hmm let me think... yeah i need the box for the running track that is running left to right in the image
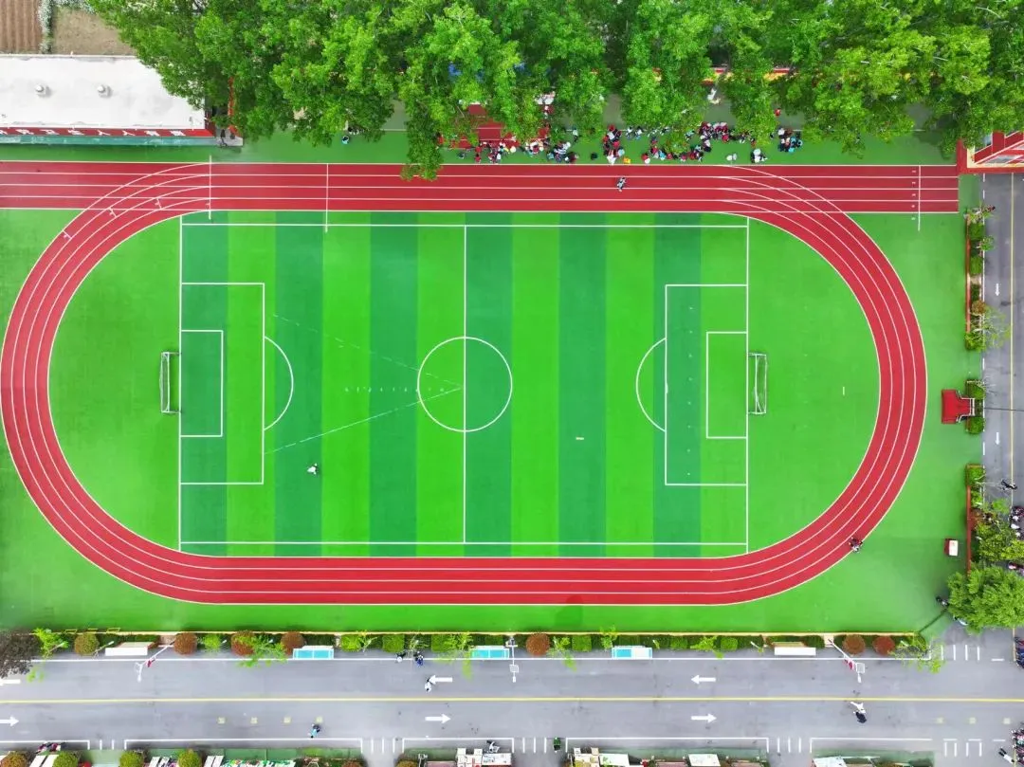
[0,156,957,605]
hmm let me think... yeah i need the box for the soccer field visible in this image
[179,213,844,557]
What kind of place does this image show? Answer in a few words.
sports ground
